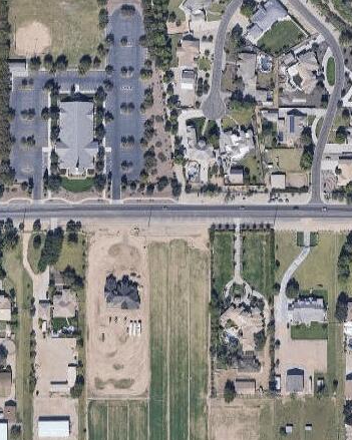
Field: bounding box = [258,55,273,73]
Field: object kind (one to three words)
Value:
swimming pool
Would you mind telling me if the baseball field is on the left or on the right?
left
